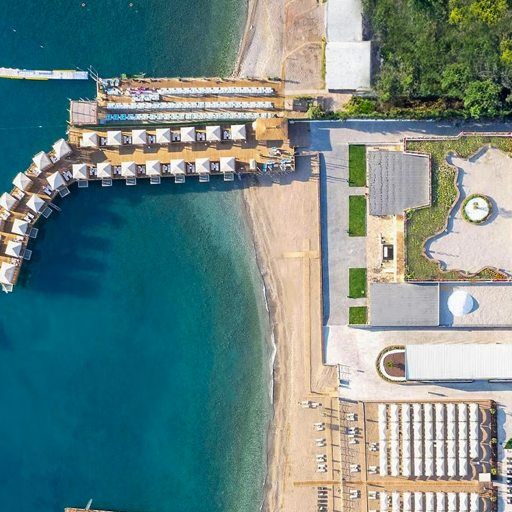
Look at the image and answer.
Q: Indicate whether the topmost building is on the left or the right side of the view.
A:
right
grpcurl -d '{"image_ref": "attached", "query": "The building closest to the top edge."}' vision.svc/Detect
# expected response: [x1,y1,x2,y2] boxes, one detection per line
[326,0,362,42]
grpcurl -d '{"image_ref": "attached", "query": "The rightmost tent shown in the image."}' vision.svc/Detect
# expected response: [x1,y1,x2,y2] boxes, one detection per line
[448,291,475,316]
